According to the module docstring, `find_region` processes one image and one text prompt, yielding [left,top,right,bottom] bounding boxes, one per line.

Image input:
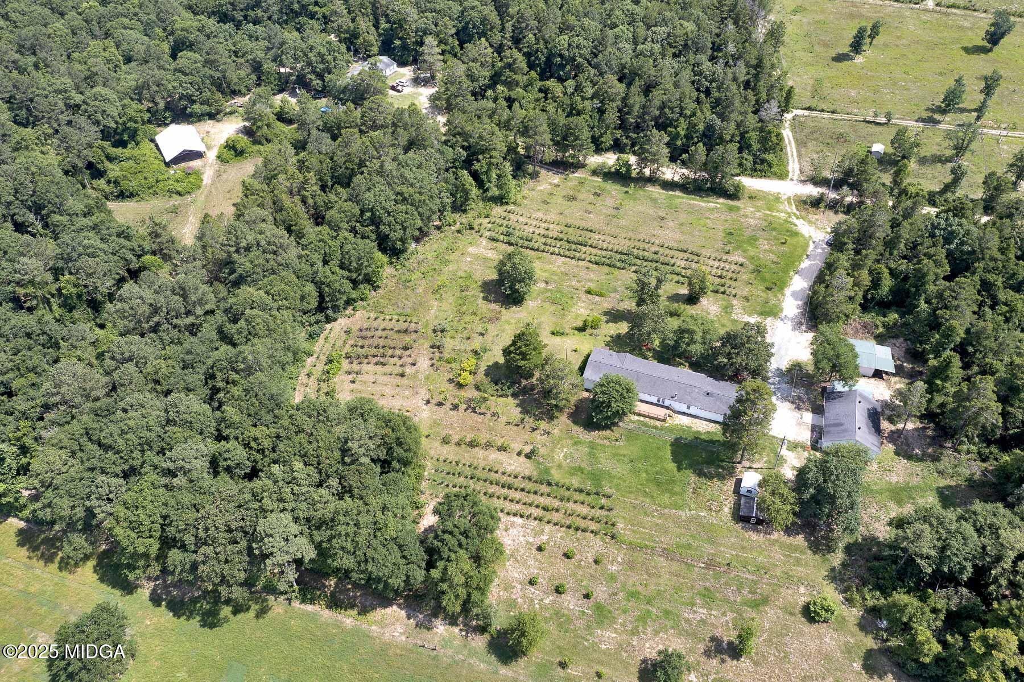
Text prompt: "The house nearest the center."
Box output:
[583,350,738,425]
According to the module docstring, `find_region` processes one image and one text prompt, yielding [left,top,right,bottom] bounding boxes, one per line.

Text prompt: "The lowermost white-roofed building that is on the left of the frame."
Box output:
[152,125,209,170]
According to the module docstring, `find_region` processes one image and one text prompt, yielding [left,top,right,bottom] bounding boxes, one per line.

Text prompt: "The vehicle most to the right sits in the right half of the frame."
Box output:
[825,230,841,247]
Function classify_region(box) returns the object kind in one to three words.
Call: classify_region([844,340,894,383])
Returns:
shed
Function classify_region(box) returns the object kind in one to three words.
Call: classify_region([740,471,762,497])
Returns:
shed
